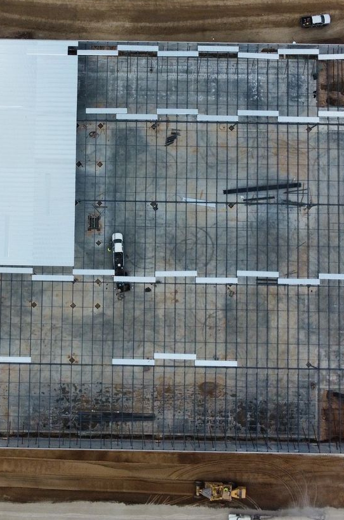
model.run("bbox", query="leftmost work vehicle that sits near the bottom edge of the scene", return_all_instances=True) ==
[195,479,246,501]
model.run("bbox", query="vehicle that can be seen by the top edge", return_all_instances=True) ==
[299,14,331,30]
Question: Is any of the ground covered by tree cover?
No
